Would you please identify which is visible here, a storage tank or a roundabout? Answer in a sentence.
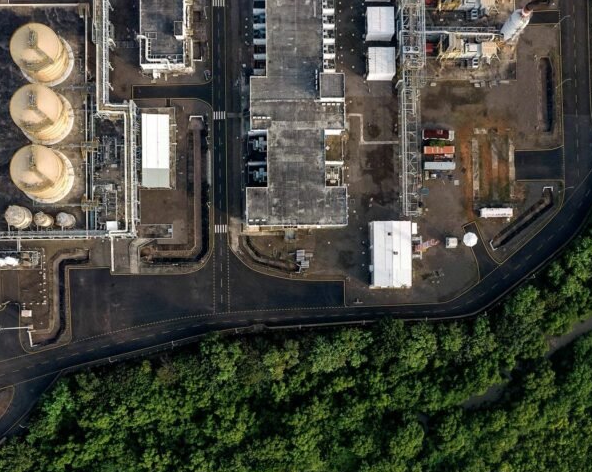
Of the two, only a storage tank appears.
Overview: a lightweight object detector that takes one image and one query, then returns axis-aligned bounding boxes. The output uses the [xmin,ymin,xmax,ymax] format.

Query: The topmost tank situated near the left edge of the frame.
[11,22,75,86]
